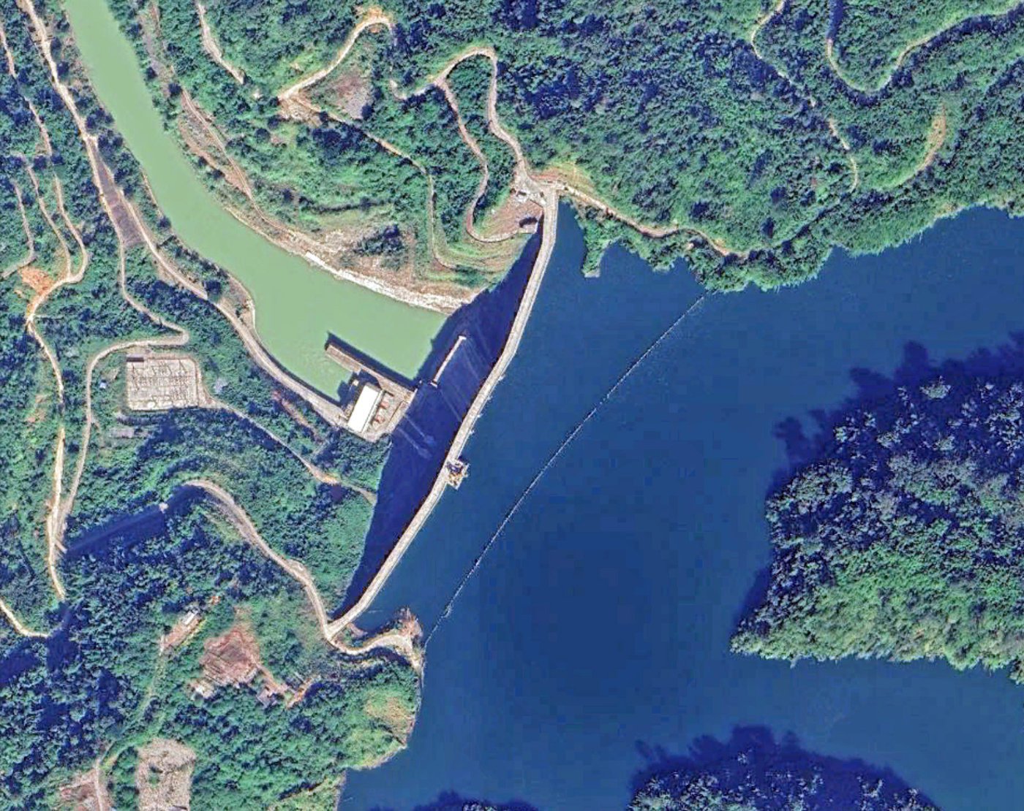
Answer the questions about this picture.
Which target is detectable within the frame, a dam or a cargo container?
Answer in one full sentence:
There is a dam in the scene.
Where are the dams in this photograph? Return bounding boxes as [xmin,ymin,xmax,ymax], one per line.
[331,189,559,635]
